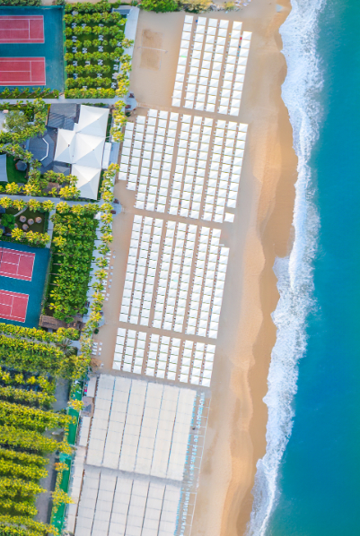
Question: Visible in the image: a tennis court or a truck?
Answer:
tennis court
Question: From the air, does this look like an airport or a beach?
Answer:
beach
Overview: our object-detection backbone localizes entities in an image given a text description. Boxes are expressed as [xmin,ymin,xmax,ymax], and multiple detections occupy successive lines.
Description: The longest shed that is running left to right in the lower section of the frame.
[39,315,83,330]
